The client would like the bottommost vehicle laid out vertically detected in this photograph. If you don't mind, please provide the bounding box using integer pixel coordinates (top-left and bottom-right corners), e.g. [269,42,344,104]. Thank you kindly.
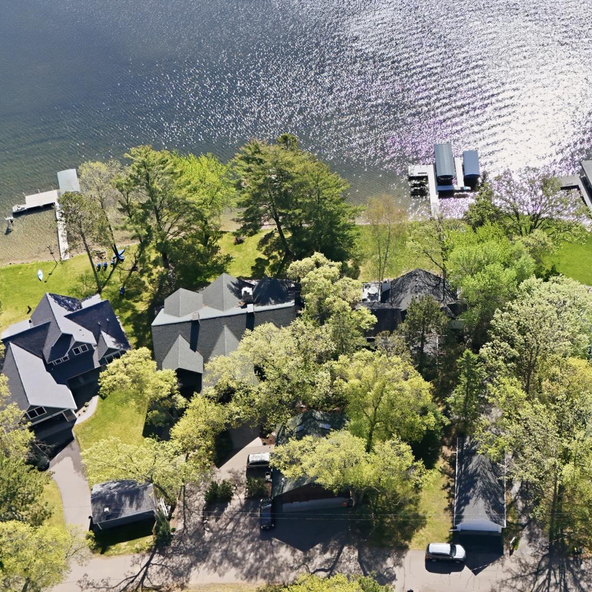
[255,497,277,538]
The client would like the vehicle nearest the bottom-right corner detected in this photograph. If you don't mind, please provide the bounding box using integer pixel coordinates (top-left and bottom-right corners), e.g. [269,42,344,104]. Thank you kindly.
[425,544,466,565]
